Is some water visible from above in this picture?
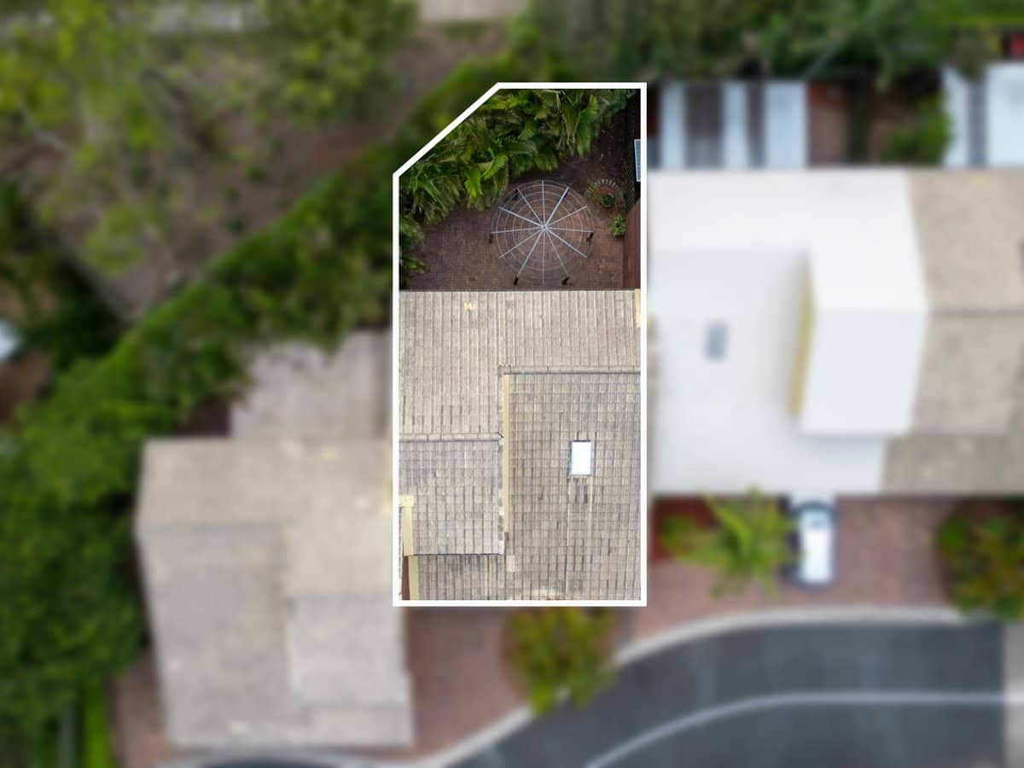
No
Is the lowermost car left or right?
right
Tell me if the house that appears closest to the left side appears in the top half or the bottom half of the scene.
bottom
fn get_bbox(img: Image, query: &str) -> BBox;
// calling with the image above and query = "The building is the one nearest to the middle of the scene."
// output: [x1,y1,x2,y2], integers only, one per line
[387,287,660,606]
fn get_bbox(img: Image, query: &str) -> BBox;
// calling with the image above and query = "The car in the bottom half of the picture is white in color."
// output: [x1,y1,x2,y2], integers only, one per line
[780,497,838,589]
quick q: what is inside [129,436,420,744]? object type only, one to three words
house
